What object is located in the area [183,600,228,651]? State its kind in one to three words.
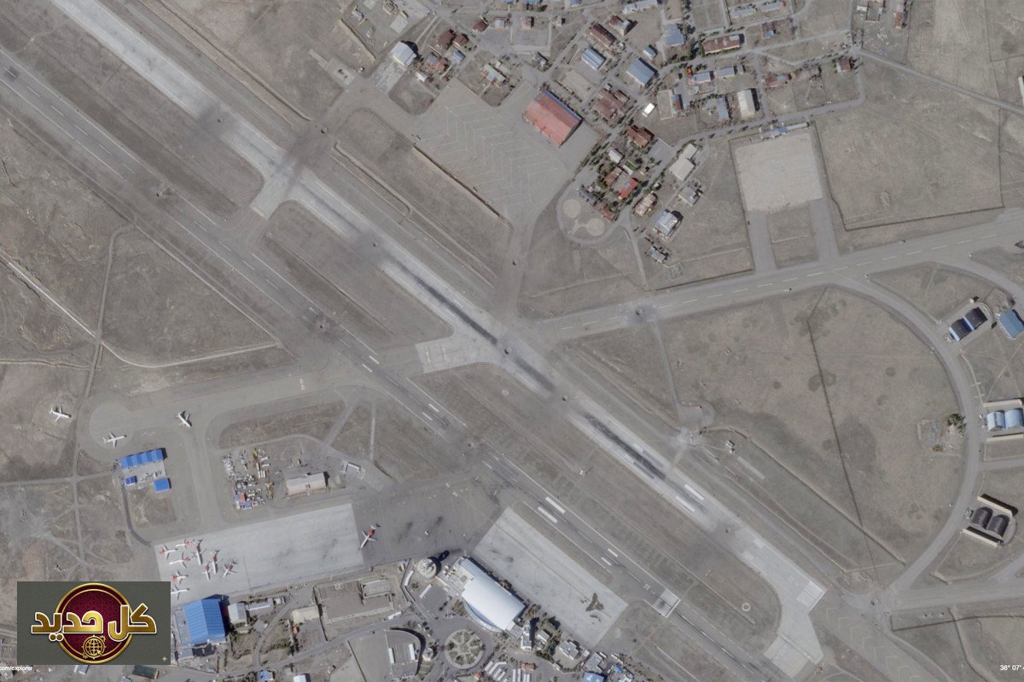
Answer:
hangar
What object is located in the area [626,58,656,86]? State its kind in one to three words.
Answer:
building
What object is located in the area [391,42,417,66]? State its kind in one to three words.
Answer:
hangar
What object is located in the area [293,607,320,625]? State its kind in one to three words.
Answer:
building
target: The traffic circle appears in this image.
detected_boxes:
[445,630,483,668]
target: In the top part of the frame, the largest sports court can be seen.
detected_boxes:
[657,90,677,120]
